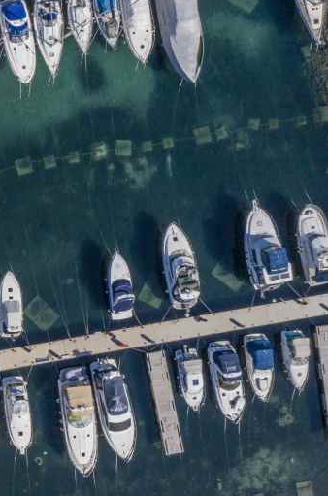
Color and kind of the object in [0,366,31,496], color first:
white boat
